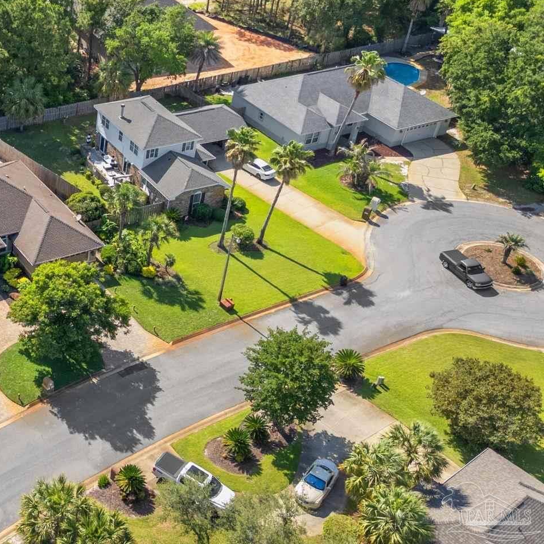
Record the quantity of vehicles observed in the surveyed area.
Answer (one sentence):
My tally gives 4 vehicles in this view.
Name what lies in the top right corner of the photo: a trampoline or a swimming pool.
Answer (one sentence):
The one visible in the top right corner of the photo is a swimming pool.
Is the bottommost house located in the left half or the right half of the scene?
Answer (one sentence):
It is on the right.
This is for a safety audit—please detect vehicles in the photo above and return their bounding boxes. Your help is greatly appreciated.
[435,247,498,289]
[244,156,280,180]
[149,448,239,508]
[295,452,339,509]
